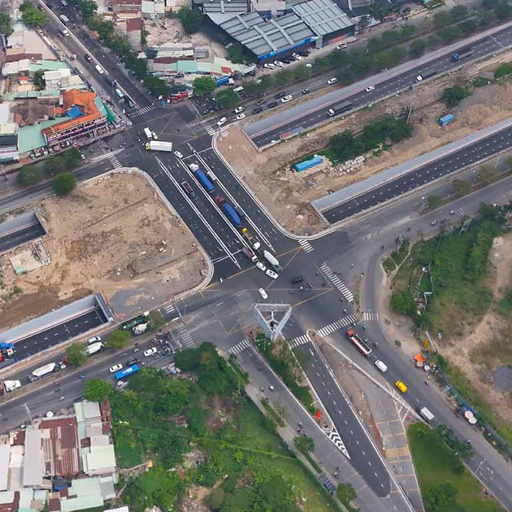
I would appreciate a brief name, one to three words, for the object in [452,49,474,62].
vehicle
